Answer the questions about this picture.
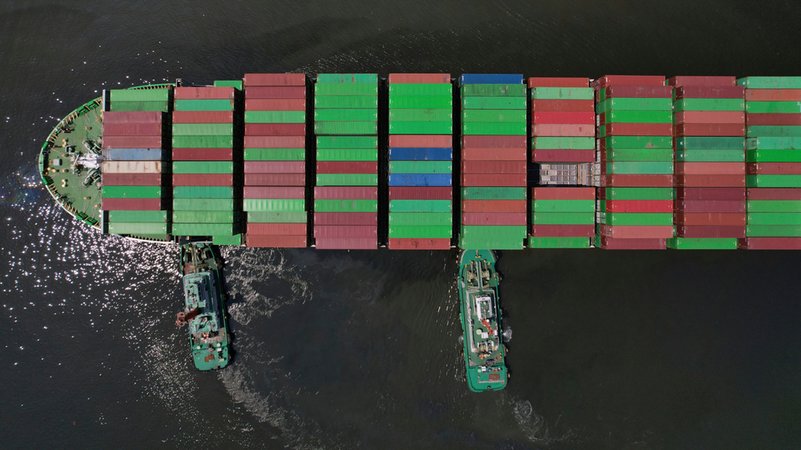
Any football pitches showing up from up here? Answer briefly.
No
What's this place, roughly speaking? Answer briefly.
port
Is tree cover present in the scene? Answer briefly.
No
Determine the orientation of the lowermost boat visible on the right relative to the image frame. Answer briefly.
vertically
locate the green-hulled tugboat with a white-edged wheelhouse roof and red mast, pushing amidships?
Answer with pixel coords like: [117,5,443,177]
[457,248,510,391]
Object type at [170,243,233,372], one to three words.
boat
